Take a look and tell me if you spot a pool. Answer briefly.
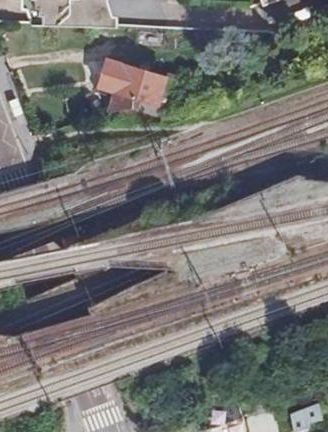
No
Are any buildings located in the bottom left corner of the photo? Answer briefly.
No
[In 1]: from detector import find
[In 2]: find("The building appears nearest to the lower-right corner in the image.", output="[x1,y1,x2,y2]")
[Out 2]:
[290,404,322,431]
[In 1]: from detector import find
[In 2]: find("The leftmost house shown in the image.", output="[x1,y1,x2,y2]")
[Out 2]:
[96,58,168,115]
